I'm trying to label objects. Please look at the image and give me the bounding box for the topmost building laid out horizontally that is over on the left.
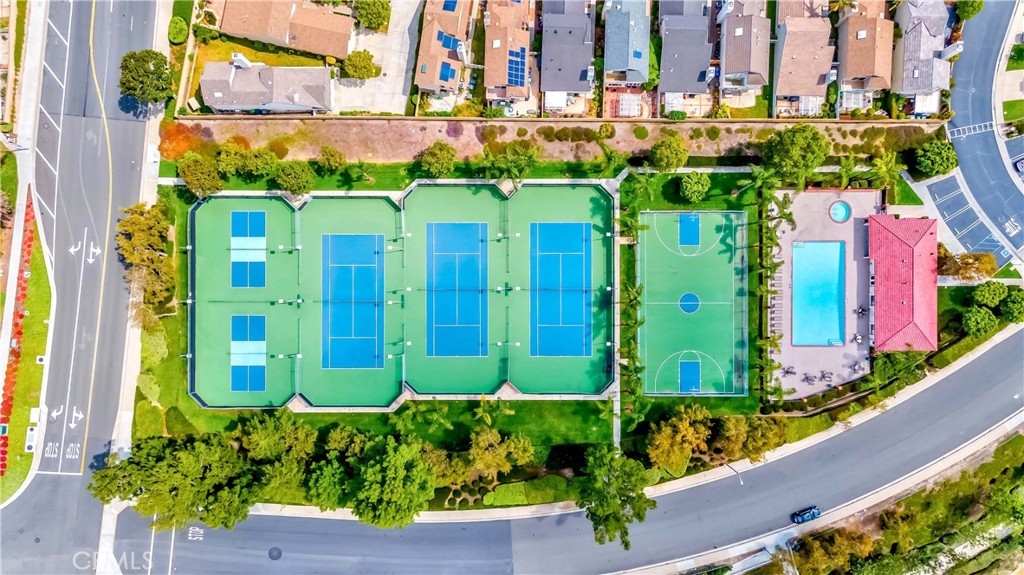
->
[220,0,357,61]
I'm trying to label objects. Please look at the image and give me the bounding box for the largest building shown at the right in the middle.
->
[858,214,938,352]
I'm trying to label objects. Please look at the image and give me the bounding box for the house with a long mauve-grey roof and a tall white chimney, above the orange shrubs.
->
[201,51,335,112]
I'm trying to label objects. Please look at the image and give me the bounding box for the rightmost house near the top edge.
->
[889,0,966,99]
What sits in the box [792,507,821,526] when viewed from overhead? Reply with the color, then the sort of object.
blue car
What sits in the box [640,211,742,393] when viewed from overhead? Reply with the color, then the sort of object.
green basketball court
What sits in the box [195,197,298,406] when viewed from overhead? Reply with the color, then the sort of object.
green sports court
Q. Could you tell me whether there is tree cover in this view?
Yes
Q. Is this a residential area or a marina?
residential area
